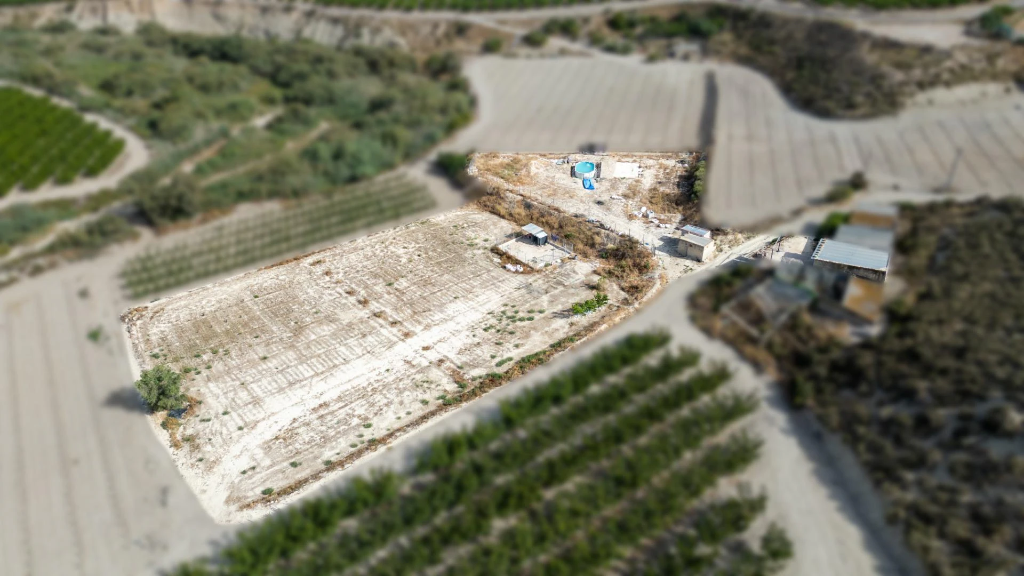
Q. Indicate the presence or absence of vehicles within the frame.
No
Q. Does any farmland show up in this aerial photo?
Yes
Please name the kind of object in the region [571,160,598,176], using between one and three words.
swimming pool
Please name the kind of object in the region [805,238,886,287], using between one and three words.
shed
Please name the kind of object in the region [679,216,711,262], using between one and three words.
shed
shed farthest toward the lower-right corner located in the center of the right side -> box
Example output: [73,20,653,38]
[840,284,898,332]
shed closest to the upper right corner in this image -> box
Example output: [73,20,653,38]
[847,198,896,230]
